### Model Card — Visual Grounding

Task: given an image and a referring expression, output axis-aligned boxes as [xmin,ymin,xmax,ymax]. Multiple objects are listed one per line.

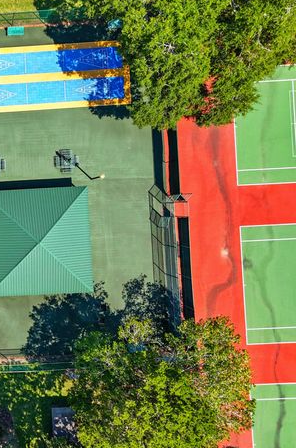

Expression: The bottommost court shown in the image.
[250,382,296,448]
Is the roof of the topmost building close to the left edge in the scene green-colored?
Yes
